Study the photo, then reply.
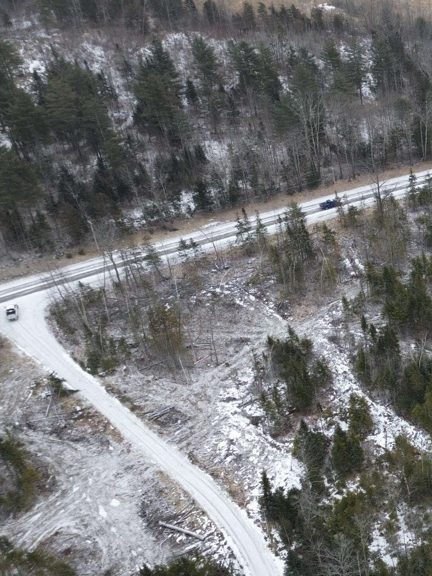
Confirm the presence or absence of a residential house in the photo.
No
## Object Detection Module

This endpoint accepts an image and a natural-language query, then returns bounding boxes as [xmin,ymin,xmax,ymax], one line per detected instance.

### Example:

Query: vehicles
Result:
[319,200,342,211]
[2,303,19,319]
